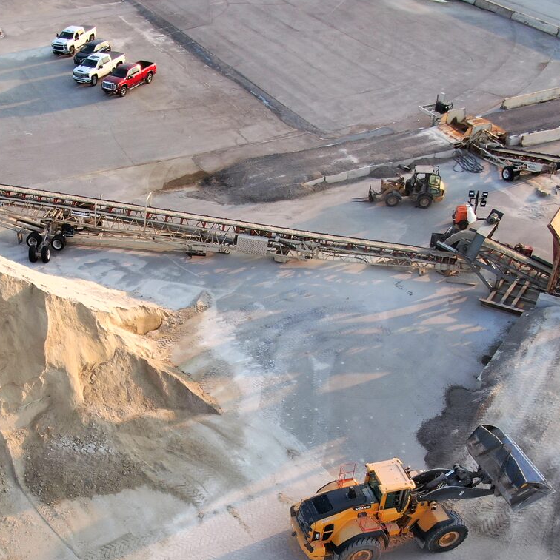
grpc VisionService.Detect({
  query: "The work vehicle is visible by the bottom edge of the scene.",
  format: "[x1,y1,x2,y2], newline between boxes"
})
[289,415,544,560]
